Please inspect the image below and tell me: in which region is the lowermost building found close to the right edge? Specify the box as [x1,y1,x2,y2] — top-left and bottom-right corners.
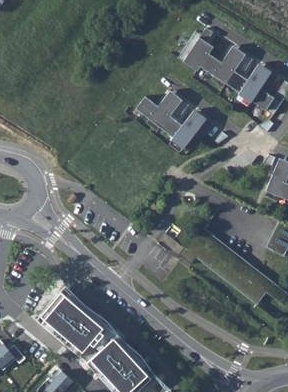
[184,232,288,308]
